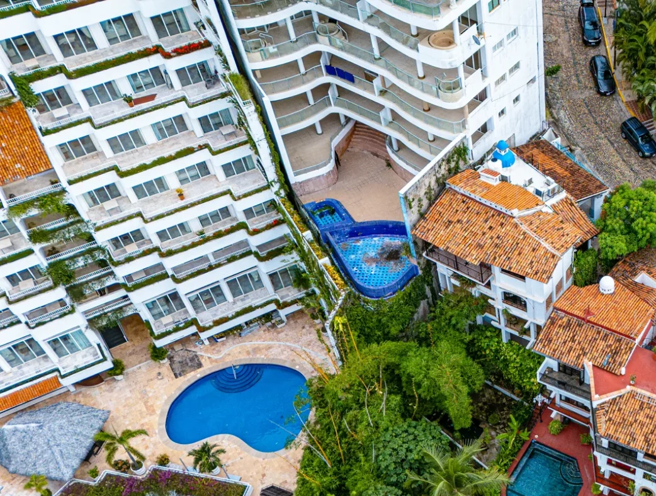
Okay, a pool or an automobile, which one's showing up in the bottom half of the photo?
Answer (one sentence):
The one visible in the bottom half of the photo is a pool.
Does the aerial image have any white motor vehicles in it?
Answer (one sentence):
No, no white motor vehicle is visible in the view.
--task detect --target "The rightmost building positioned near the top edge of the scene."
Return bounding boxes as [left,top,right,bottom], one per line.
[231,0,550,192]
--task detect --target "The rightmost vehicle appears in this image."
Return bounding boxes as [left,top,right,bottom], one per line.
[616,105,656,159]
